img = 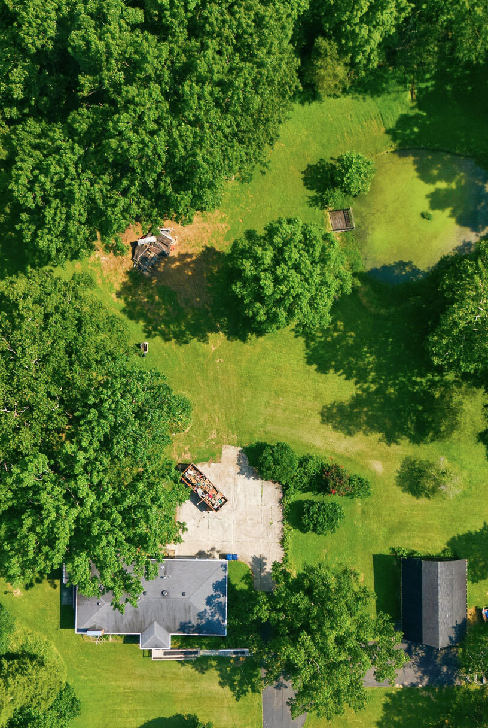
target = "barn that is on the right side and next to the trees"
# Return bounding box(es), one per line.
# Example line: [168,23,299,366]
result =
[401,556,468,651]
